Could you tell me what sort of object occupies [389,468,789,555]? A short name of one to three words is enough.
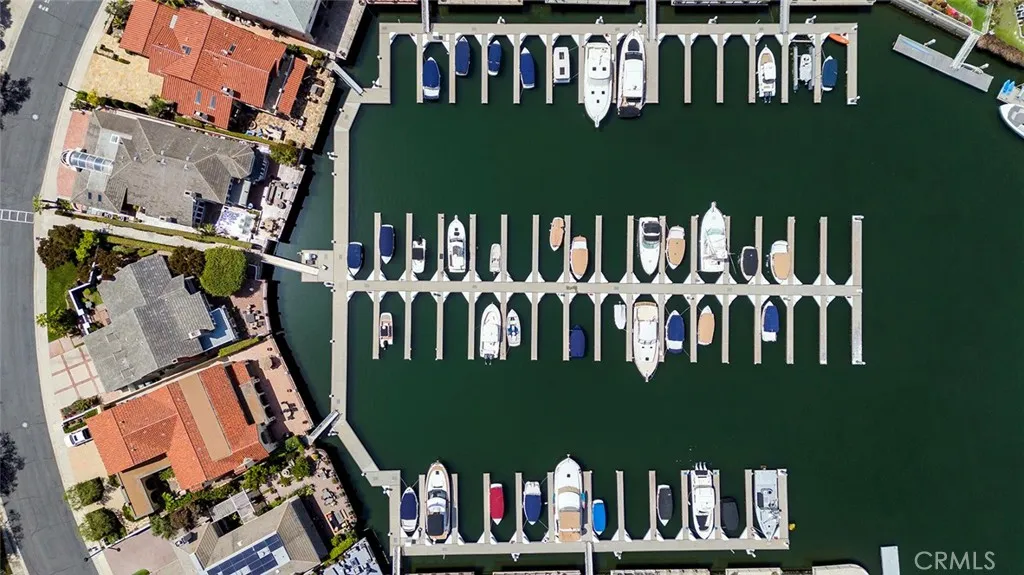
pier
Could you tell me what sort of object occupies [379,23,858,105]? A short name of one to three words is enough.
pier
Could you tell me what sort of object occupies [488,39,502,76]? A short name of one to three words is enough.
boat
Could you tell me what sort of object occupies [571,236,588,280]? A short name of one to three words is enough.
boat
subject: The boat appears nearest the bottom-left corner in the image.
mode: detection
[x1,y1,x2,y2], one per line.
[401,481,419,532]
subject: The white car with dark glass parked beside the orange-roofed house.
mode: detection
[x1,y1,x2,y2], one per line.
[62,429,93,448]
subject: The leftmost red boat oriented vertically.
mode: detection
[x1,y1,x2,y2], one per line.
[489,483,504,531]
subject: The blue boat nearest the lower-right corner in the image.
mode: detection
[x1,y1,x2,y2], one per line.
[761,302,779,340]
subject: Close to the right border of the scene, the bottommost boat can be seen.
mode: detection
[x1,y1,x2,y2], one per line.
[999,101,1024,137]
